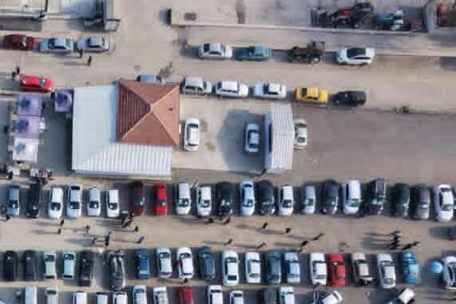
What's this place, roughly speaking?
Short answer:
parking lot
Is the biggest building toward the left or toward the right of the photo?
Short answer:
left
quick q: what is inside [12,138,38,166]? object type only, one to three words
tent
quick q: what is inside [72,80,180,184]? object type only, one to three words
building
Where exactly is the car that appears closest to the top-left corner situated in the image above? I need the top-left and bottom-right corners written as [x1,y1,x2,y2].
[2,35,35,52]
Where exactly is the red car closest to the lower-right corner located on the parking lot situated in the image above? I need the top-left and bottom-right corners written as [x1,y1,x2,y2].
[328,254,346,287]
